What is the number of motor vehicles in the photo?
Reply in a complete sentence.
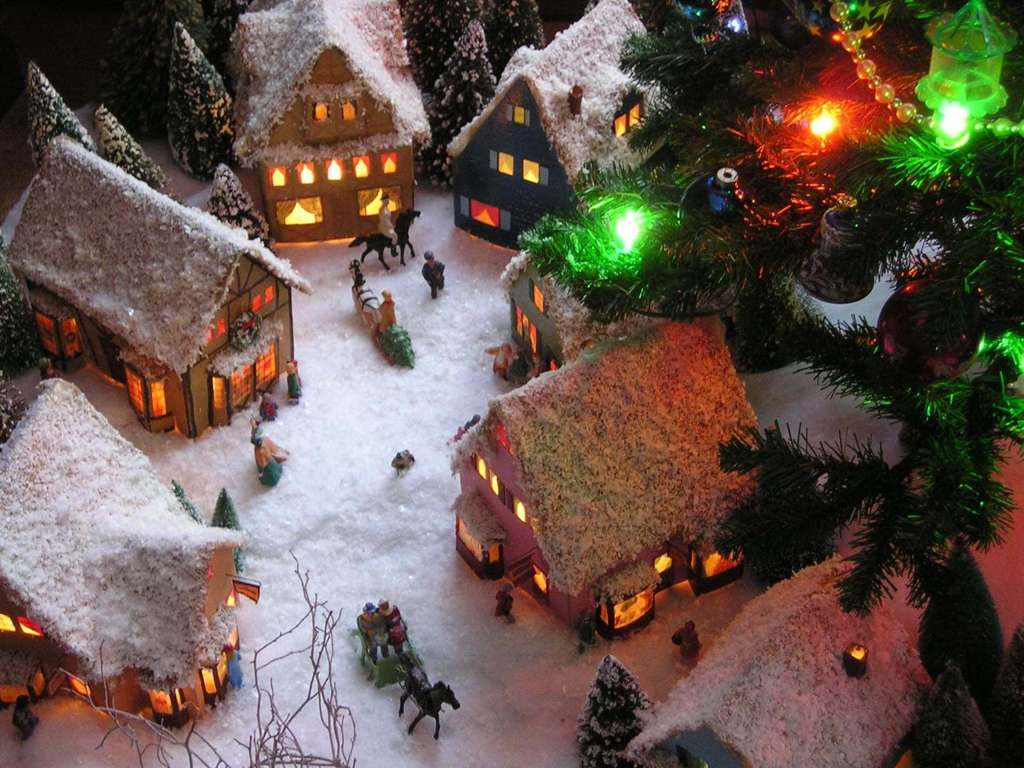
The picture shows no motor vehicles.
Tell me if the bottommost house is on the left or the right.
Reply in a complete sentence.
You can find the bottommost house on the right side of the picture.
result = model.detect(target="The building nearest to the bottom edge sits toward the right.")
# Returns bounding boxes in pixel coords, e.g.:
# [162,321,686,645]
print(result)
[628,555,932,768]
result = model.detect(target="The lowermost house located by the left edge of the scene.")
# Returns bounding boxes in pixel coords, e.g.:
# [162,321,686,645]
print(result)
[0,370,252,730]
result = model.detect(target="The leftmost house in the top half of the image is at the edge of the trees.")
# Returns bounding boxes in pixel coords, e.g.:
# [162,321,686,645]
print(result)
[12,133,313,437]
